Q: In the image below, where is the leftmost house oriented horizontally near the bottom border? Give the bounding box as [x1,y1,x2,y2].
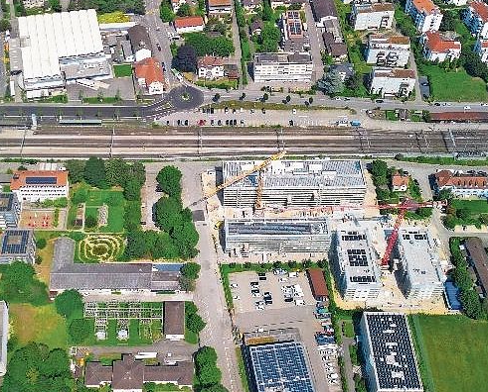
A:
[84,352,195,392]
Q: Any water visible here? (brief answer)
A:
No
